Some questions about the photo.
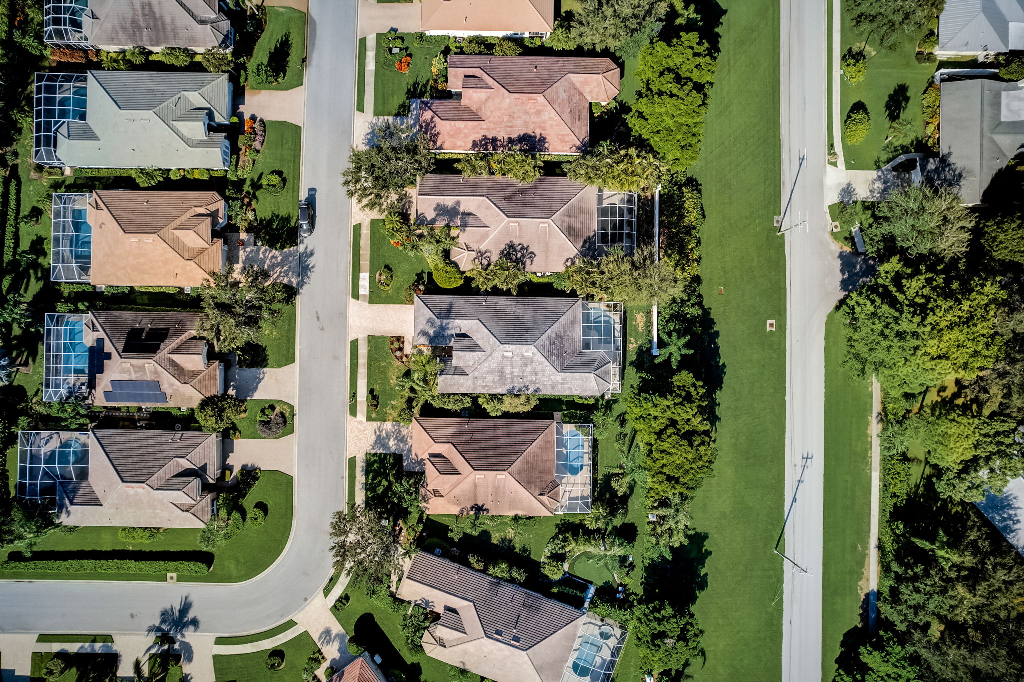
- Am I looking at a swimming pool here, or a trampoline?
swimming pool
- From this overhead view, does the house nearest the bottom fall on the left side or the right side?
left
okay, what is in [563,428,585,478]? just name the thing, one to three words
swimming pool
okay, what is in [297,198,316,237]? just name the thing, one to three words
car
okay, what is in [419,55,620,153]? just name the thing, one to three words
house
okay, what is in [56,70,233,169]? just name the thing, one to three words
house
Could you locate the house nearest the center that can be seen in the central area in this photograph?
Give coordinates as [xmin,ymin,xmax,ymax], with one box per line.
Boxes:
[414,296,612,395]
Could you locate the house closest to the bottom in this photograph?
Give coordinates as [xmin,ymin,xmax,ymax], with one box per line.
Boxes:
[328,653,387,682]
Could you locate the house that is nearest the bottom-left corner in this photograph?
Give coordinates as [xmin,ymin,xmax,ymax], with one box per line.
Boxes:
[57,430,221,529]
